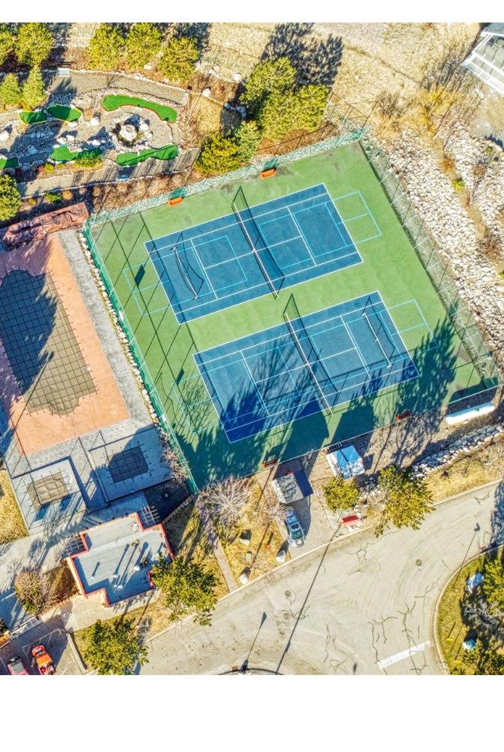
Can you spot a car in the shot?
Yes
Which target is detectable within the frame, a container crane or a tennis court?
tennis court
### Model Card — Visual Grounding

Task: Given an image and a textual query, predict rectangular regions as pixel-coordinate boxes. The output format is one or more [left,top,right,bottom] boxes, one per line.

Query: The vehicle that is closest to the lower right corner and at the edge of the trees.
[277,506,308,554]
